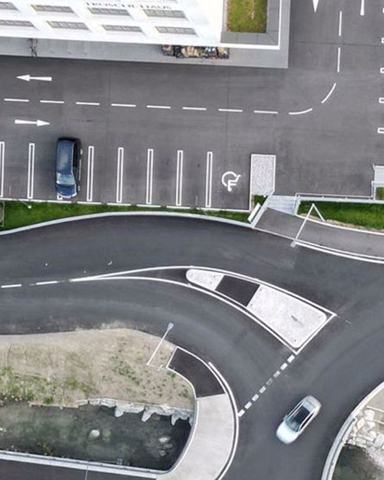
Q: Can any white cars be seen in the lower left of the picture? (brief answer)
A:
No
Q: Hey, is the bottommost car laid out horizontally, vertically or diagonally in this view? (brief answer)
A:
diagonally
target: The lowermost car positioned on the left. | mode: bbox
[49,139,80,198]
